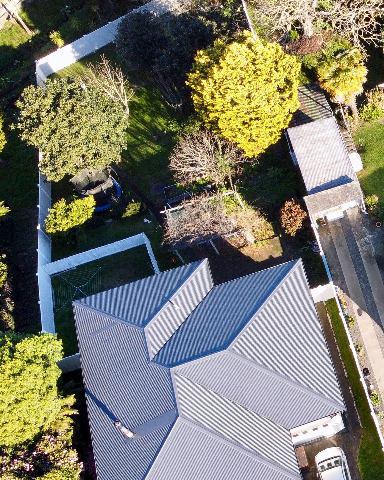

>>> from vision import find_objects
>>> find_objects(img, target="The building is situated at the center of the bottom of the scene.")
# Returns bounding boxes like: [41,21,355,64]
[66,256,349,480]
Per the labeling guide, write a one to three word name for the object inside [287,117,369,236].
building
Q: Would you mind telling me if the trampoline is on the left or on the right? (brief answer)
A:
left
